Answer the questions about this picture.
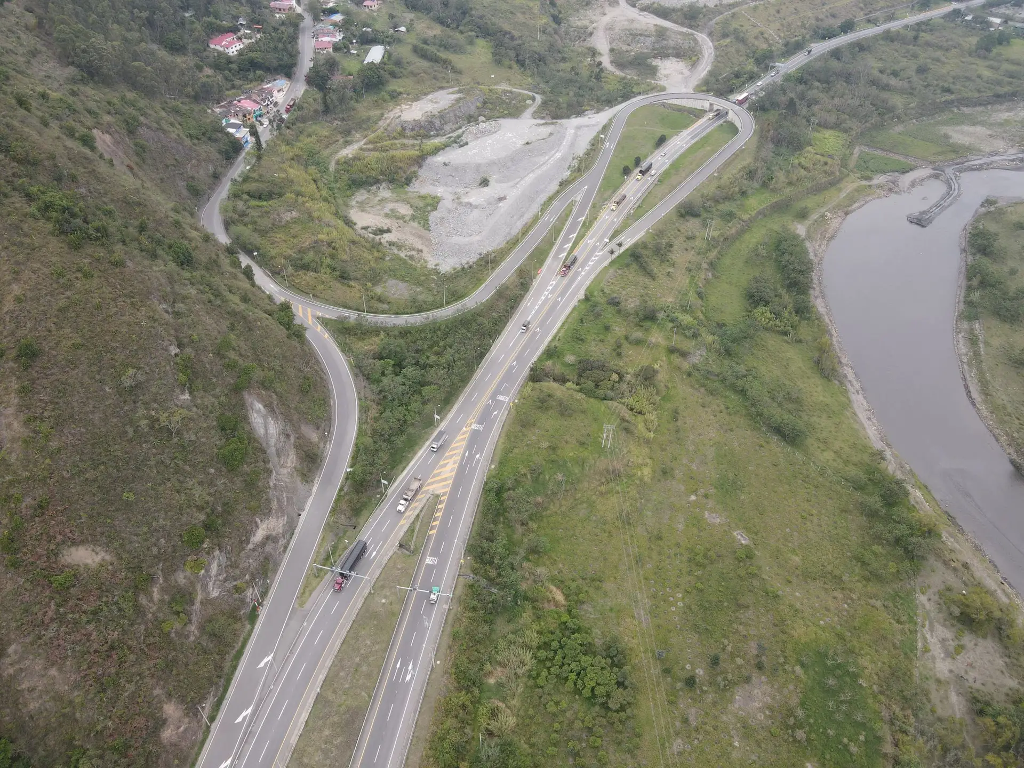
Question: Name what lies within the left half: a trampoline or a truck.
truck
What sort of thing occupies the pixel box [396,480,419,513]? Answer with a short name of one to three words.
truck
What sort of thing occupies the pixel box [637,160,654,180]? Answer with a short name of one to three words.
vehicle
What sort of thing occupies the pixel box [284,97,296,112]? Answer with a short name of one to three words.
vehicle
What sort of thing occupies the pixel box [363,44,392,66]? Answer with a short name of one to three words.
shed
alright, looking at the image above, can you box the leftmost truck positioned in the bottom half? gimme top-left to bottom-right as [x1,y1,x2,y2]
[333,540,366,592]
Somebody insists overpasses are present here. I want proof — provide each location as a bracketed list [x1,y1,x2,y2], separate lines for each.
[638,99,741,130]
